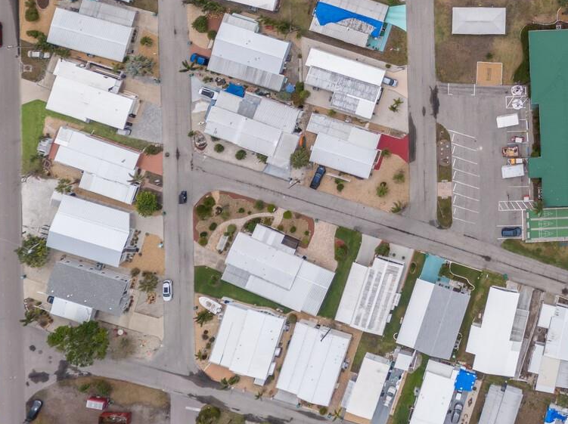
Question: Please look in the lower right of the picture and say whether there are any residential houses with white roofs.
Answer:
Yes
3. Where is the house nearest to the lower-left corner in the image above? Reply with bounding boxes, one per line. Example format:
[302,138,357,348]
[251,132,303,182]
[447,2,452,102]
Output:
[46,257,137,322]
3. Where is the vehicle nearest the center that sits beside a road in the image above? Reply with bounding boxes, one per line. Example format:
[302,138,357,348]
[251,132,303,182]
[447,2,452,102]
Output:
[308,165,325,190]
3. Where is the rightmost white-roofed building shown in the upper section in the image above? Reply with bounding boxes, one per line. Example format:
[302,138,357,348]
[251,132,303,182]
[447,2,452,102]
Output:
[452,7,505,34]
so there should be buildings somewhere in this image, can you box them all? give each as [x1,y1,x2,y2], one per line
[46,59,139,129]
[466,285,529,377]
[54,126,145,204]
[481,380,523,424]
[305,48,386,119]
[528,30,568,208]
[47,194,136,267]
[46,257,137,322]
[544,404,568,424]
[209,296,287,386]
[205,83,303,169]
[528,302,568,393]
[452,7,505,34]
[276,320,353,406]
[410,358,476,424]
[309,0,390,47]
[396,278,470,359]
[307,113,383,178]
[341,351,412,419]
[47,0,138,61]
[335,255,405,335]
[208,14,293,91]
[222,222,337,315]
